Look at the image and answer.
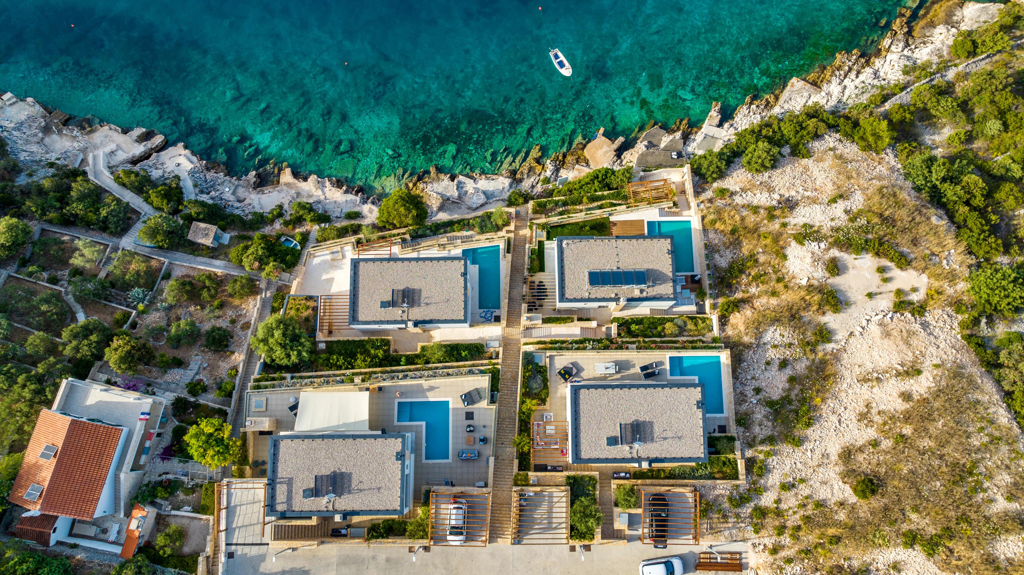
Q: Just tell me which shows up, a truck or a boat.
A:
boat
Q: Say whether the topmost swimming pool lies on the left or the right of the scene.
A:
right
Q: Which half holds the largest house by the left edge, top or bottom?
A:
bottom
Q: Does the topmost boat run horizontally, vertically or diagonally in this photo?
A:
diagonally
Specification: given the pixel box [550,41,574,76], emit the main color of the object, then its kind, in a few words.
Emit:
white boat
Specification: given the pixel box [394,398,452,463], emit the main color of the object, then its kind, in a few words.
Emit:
blue swimming pool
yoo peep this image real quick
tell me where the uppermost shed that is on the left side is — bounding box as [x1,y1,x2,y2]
[187,222,225,249]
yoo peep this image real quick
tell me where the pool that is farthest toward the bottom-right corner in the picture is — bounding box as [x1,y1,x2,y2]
[667,353,726,417]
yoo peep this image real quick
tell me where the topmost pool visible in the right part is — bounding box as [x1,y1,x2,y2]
[645,218,697,275]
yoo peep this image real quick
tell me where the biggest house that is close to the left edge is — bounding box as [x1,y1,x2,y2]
[7,409,135,521]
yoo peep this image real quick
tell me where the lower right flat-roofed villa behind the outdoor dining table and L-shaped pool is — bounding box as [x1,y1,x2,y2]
[563,380,708,468]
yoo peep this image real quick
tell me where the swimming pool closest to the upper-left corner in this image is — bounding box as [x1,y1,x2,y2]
[459,242,503,312]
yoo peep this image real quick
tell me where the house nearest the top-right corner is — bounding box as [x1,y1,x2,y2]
[553,235,677,313]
